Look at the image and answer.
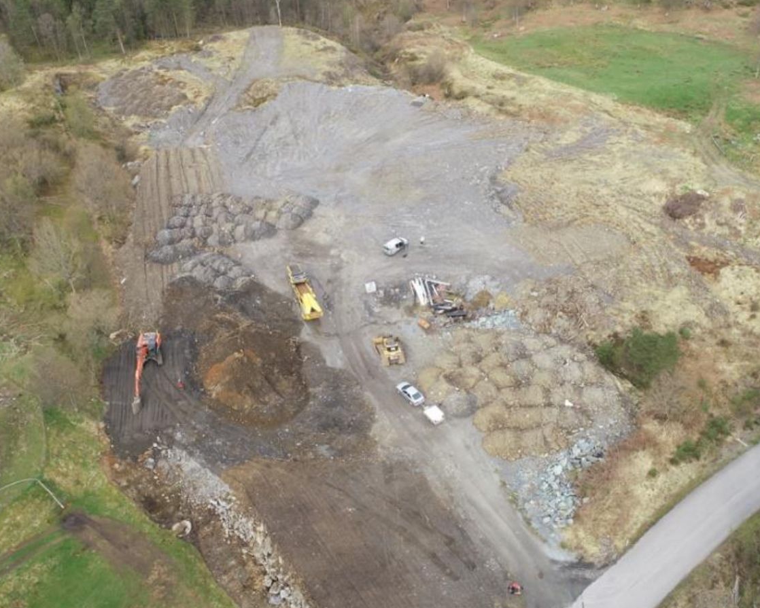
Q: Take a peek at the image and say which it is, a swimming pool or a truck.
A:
truck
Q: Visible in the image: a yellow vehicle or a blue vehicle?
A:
yellow vehicle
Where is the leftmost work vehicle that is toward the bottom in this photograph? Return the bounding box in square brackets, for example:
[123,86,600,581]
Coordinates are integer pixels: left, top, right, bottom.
[135,331,162,416]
